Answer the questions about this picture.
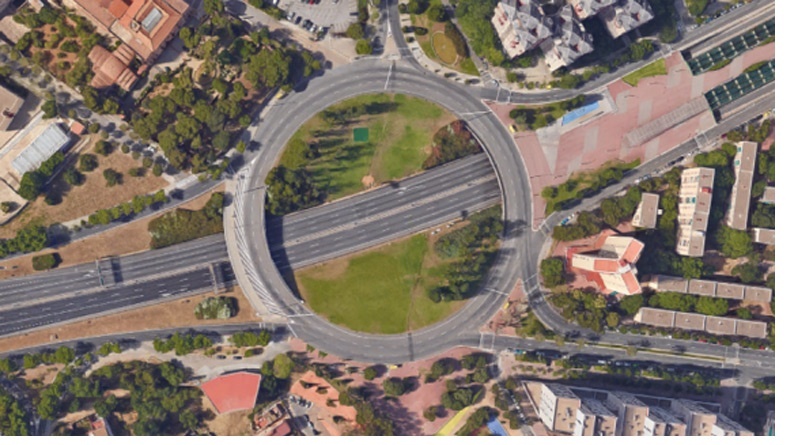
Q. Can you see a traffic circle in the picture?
Yes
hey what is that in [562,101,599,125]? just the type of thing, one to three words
swimming pool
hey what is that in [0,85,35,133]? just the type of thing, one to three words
building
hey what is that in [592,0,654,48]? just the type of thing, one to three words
building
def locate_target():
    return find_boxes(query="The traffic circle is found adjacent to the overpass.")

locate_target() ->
[245,58,534,366]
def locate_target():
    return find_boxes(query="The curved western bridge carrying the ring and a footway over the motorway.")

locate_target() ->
[222,156,294,332]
